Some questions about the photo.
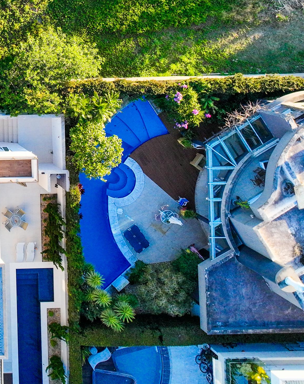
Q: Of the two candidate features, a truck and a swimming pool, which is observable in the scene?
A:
swimming pool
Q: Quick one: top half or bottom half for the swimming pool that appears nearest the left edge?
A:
bottom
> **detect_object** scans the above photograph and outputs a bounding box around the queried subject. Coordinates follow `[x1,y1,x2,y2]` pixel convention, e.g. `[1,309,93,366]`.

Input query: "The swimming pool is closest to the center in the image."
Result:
[79,97,170,289]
